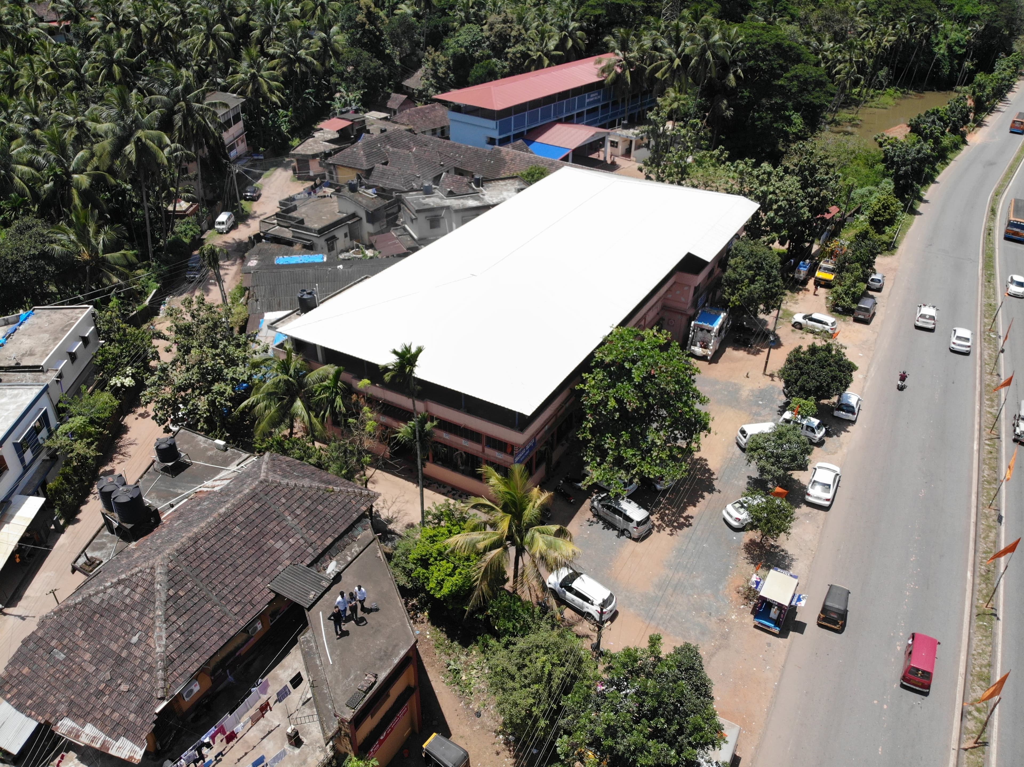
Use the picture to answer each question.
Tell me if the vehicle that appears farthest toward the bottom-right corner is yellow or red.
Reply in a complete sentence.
The vehicle that appears farthest toward the bottom-right corner is red.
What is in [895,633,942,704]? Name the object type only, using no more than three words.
vehicle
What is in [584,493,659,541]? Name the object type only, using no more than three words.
car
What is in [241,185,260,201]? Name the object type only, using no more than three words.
car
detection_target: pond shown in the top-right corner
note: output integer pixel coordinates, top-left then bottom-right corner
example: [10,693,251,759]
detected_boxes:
[826,88,964,154]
